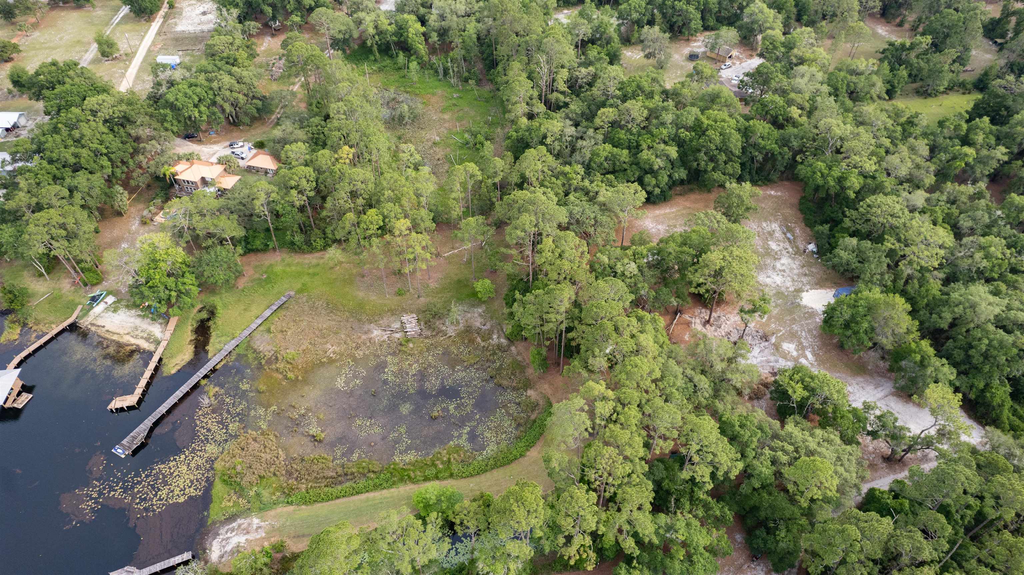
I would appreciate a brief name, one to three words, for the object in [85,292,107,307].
boat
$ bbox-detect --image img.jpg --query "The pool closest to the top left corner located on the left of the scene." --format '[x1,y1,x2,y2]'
[148,211,175,227]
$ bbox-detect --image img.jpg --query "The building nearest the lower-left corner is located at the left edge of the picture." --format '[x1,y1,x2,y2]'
[0,368,34,419]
